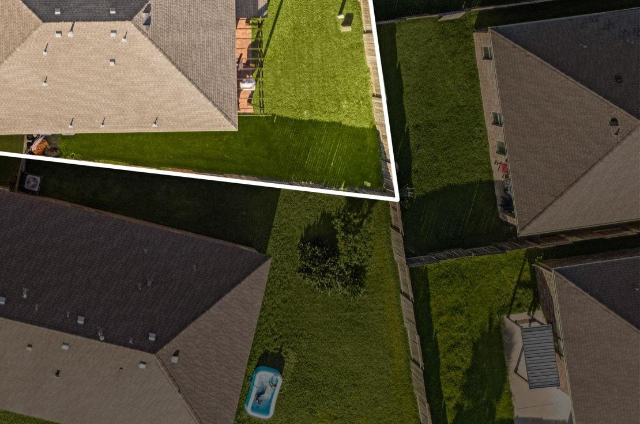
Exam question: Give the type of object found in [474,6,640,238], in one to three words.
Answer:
house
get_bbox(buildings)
[0,187,271,424]
[0,0,240,135]
[536,248,640,424]
[474,6,640,238]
